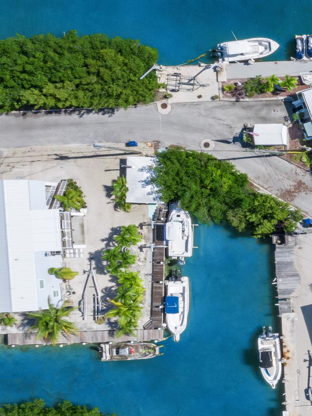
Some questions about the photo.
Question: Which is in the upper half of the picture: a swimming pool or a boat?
boat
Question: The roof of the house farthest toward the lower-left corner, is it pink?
No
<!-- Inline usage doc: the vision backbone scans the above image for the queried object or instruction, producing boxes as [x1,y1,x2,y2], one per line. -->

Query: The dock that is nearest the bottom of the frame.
[8,329,164,347]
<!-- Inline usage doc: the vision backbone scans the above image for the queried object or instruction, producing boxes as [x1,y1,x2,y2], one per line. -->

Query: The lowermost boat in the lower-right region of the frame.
[259,323,284,389]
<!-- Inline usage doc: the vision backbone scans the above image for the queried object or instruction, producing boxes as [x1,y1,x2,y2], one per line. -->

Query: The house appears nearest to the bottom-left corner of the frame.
[0,179,89,313]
